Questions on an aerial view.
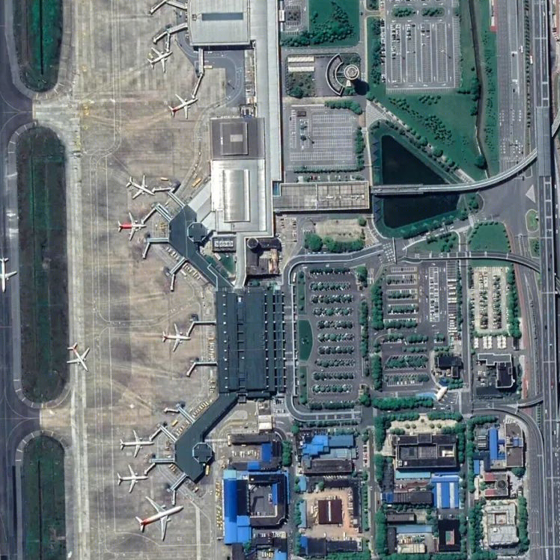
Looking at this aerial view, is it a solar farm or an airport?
airport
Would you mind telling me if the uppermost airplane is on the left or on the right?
left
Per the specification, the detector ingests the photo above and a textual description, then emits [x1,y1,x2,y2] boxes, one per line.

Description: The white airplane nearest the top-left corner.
[147,47,172,69]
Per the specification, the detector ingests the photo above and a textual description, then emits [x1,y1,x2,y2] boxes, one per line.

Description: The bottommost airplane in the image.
[134,498,184,542]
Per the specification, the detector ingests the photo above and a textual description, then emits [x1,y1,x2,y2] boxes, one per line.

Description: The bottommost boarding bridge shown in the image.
[170,476,187,507]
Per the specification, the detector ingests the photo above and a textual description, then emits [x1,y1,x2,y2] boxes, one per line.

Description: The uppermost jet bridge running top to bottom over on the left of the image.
[190,47,203,99]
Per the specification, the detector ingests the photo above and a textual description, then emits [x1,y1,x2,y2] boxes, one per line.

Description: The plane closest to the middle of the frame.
[162,324,190,351]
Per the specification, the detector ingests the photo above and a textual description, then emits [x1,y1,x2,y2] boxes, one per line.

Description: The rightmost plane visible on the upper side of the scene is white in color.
[169,95,197,116]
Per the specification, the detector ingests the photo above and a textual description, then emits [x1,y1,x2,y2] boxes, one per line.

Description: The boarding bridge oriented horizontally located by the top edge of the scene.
[149,0,188,14]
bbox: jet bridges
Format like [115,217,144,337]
[142,459,174,476]
[142,237,167,260]
[170,476,187,507]
[151,24,188,52]
[163,405,195,423]
[185,362,216,377]
[149,0,188,14]
[170,259,186,293]
[185,322,216,338]
[190,47,203,99]
[140,203,172,225]
[148,424,176,443]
